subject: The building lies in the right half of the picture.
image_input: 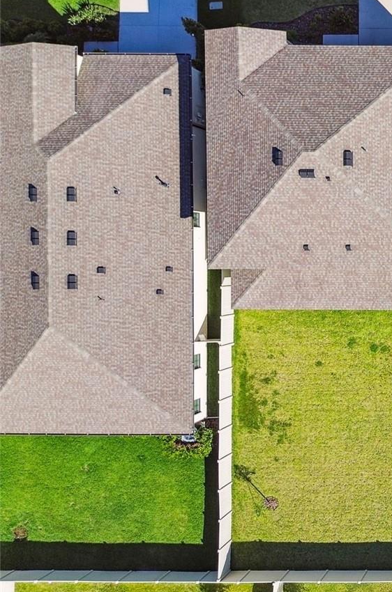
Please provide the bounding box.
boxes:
[204,25,392,310]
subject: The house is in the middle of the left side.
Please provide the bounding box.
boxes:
[0,41,206,435]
